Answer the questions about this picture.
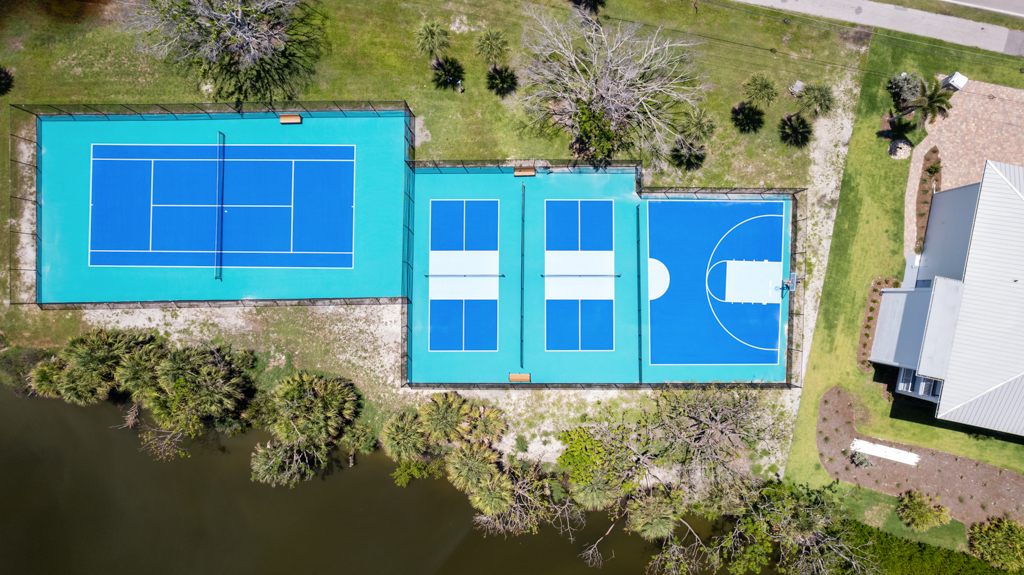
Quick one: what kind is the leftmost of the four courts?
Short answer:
tennis court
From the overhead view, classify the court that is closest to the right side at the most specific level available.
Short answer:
basketball court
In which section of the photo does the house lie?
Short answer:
right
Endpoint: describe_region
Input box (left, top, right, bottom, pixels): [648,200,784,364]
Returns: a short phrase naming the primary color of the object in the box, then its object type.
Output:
blue basketball court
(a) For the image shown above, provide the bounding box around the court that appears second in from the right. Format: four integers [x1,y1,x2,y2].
[545,200,614,352]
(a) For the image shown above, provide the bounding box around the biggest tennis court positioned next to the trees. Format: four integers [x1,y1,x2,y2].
[37,111,411,303]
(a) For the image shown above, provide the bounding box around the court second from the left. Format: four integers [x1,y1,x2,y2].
[430,200,499,352]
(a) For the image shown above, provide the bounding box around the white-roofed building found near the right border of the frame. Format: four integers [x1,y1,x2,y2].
[867,158,1024,436]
